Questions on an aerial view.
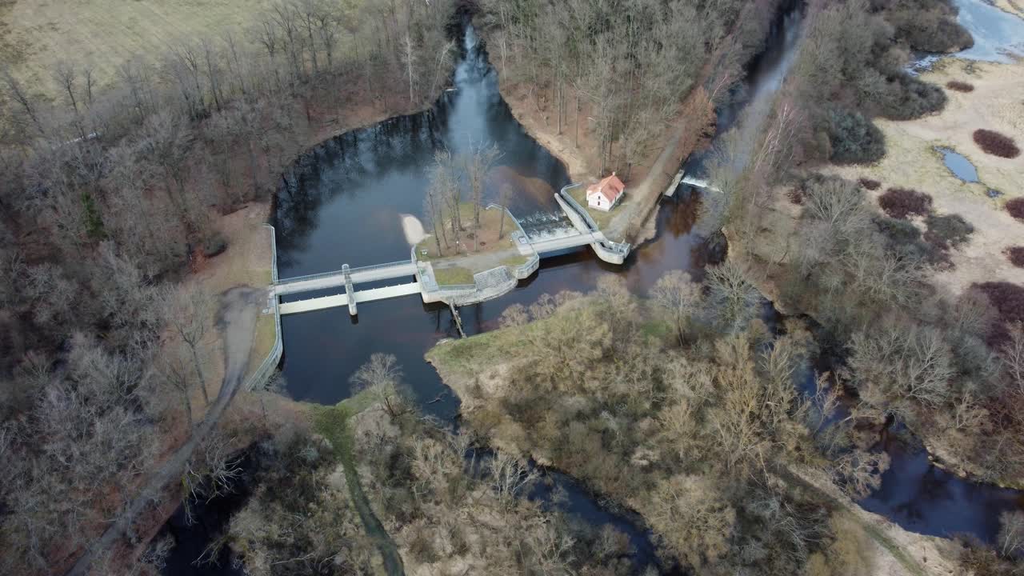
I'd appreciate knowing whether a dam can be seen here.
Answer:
Yes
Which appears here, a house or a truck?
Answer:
house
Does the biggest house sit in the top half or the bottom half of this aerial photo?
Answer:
top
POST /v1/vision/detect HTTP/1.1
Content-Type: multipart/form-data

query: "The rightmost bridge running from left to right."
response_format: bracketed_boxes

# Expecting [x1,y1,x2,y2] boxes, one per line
[529,229,598,254]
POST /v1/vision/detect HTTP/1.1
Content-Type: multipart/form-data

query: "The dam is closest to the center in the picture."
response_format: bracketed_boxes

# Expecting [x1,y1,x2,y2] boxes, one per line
[516,193,591,252]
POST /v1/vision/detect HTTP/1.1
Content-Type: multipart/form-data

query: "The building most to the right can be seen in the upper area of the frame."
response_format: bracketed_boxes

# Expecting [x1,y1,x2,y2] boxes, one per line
[582,173,621,211]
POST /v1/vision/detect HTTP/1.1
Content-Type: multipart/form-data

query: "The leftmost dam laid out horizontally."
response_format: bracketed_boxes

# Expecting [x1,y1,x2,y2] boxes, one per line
[278,268,420,319]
